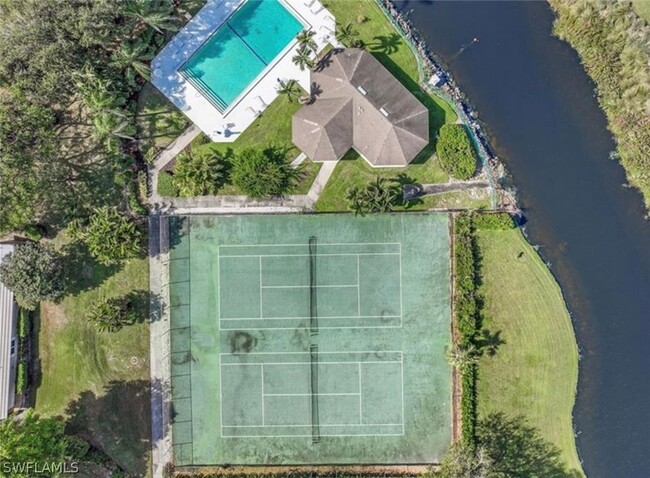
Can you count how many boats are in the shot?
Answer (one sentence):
The count of boats is 0.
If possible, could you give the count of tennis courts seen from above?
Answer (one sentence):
Altogether the scene contains 2 tennis courts.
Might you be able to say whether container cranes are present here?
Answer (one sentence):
No, there appears to be no container crane in this shot.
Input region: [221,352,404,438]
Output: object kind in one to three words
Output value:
tennis court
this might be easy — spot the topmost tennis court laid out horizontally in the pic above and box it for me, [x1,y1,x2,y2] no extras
[219,243,402,330]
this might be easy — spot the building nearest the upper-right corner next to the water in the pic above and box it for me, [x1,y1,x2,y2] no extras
[292,50,429,167]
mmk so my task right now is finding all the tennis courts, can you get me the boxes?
[221,352,404,438]
[219,243,402,330]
